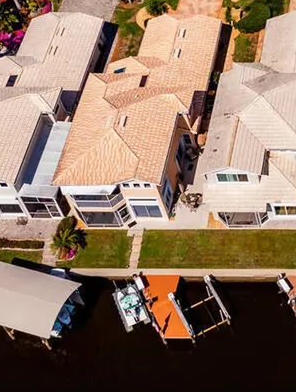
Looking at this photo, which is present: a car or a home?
home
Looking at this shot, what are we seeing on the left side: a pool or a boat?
boat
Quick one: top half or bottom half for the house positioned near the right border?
top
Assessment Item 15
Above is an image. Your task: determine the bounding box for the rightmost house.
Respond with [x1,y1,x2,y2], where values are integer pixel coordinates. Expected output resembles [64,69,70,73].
[200,11,296,228]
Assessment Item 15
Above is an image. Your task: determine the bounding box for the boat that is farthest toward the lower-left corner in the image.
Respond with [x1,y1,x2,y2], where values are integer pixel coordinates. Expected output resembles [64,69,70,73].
[50,306,84,344]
